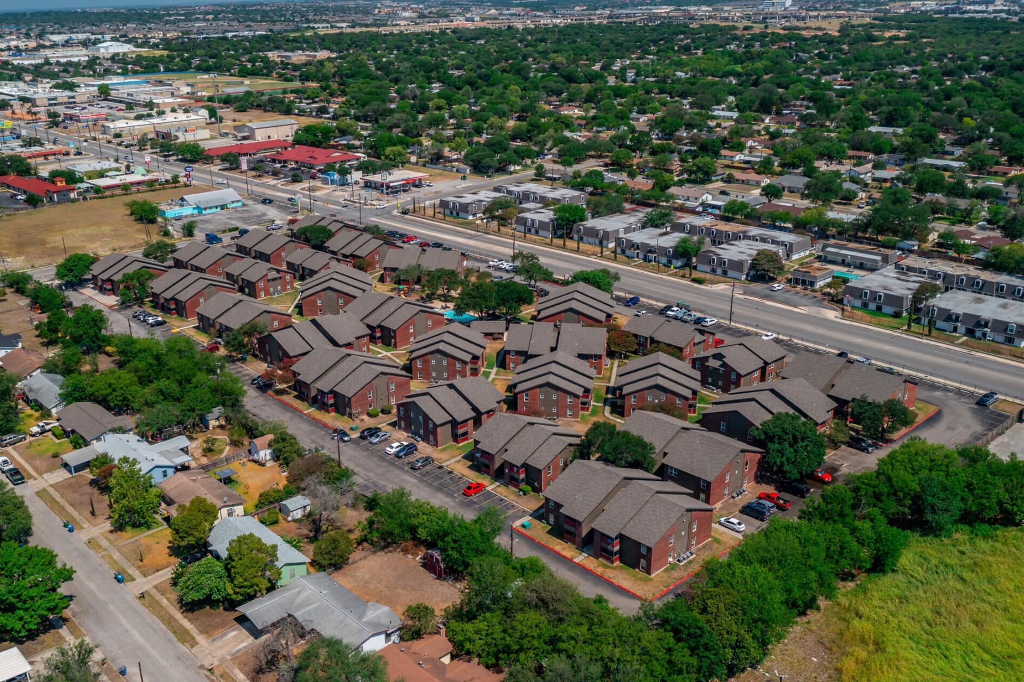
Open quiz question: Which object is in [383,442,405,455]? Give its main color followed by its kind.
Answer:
white vehicle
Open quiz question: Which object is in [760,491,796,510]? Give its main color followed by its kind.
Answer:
red vehicle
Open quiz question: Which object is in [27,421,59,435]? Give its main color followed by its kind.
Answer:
white vehicle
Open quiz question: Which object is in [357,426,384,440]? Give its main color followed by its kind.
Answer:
black car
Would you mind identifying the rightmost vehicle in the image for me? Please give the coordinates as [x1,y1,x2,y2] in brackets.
[976,392,999,407]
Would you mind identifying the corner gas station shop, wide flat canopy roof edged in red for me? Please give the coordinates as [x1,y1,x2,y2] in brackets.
[352,167,441,194]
